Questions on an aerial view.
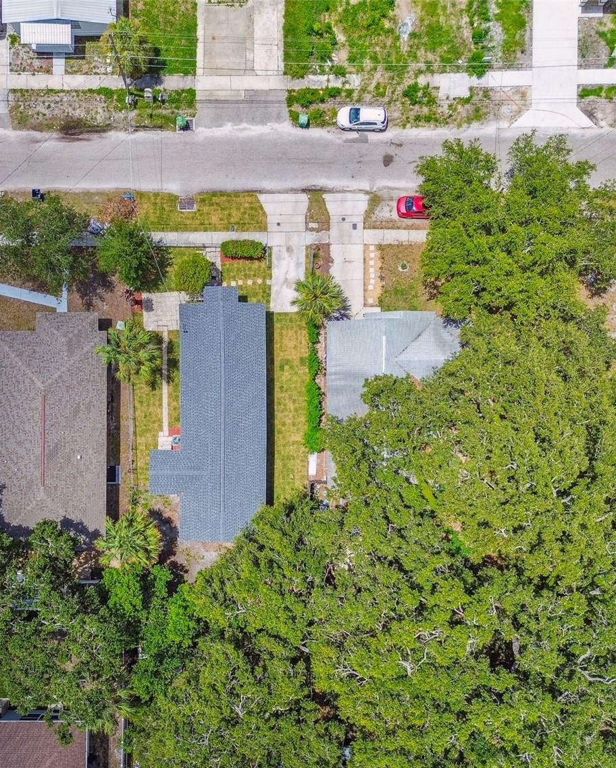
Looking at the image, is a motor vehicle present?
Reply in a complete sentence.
Yes, a motor vehicle is visible in the scene.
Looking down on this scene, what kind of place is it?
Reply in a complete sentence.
The area seen from above is a residential area.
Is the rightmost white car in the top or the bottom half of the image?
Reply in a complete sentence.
You can find the rightmost white car in the top half.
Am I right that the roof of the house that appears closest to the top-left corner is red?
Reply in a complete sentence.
No, from above the roof of the house that appears closest to the top-left corner looks white.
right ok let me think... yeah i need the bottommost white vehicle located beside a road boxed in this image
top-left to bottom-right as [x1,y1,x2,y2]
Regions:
[339,107,387,134]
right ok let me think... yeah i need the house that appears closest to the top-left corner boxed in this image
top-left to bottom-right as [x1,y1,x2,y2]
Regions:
[2,0,117,52]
